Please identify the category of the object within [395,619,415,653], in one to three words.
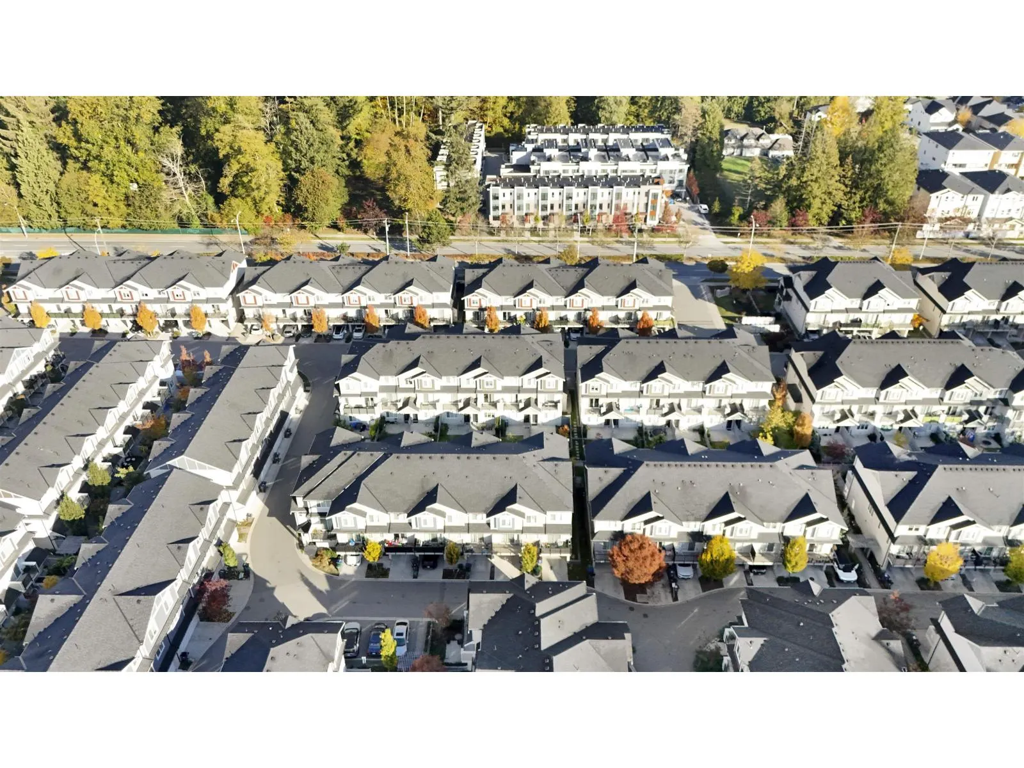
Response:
car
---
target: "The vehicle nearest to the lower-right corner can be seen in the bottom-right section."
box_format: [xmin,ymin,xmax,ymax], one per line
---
[830,554,855,583]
